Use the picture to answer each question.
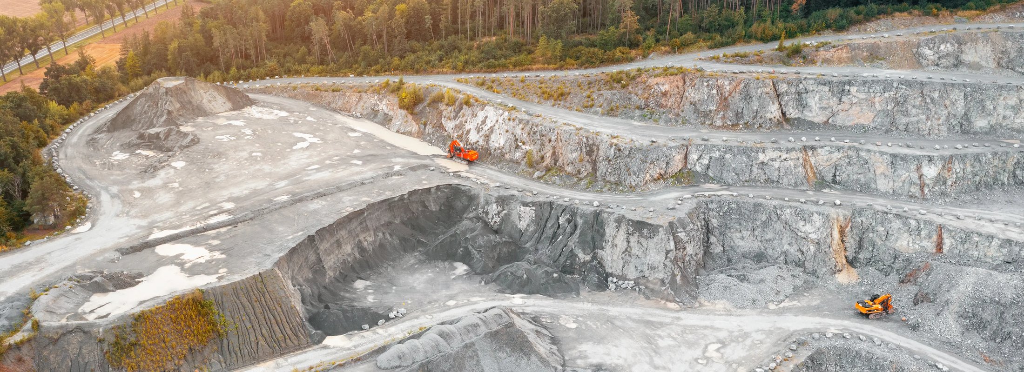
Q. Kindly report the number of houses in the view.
0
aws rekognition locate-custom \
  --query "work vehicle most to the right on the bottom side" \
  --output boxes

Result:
[856,292,895,321]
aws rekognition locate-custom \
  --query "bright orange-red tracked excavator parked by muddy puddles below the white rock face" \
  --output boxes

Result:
[444,132,476,163]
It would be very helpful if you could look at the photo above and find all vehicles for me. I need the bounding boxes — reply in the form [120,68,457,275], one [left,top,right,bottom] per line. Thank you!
[856,292,895,321]
[444,132,476,163]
